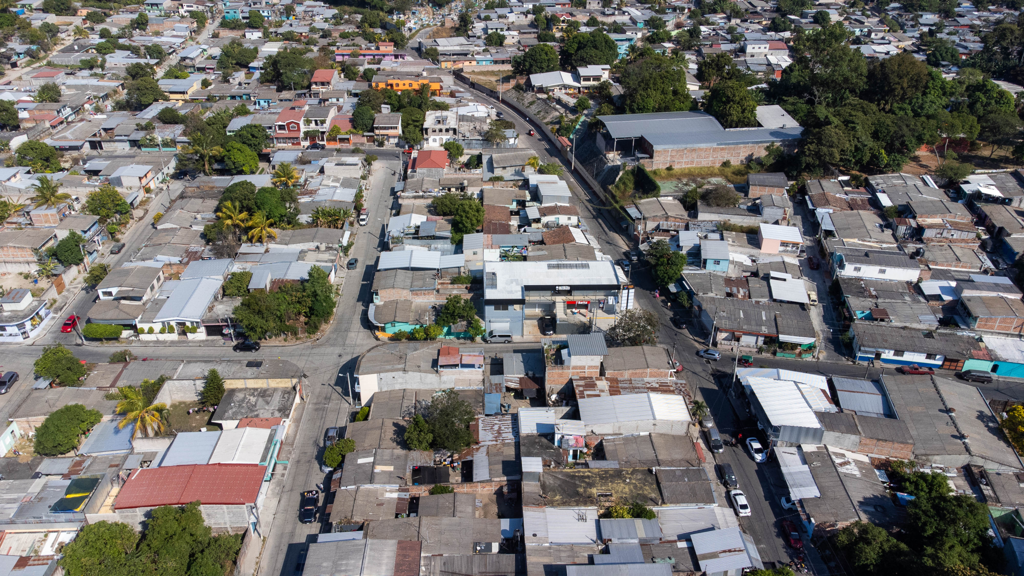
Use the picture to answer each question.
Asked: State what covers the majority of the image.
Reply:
buildings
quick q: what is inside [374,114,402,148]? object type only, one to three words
house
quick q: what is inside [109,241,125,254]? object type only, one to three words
vehicle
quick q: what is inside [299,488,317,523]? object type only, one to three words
vehicle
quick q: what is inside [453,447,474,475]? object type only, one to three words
shed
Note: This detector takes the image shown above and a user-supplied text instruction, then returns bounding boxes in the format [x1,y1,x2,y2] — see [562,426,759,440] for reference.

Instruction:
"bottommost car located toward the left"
[294,533,315,569]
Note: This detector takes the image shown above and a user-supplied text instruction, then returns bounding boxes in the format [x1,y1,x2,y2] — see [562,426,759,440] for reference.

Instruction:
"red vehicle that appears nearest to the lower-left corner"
[61,314,78,331]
